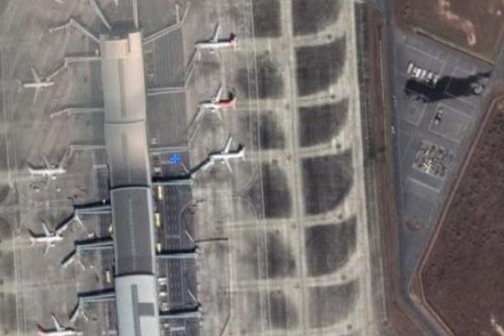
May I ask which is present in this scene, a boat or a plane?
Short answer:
plane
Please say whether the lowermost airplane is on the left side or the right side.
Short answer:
left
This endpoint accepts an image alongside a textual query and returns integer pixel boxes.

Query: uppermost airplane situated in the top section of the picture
[196,24,236,60]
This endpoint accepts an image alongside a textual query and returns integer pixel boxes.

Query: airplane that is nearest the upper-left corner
[20,69,55,100]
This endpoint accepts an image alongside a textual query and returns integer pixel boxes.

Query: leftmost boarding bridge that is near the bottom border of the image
[69,292,116,322]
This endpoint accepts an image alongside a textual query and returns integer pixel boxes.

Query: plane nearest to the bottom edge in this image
[37,316,77,336]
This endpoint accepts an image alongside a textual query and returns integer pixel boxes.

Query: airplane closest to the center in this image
[210,136,245,172]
